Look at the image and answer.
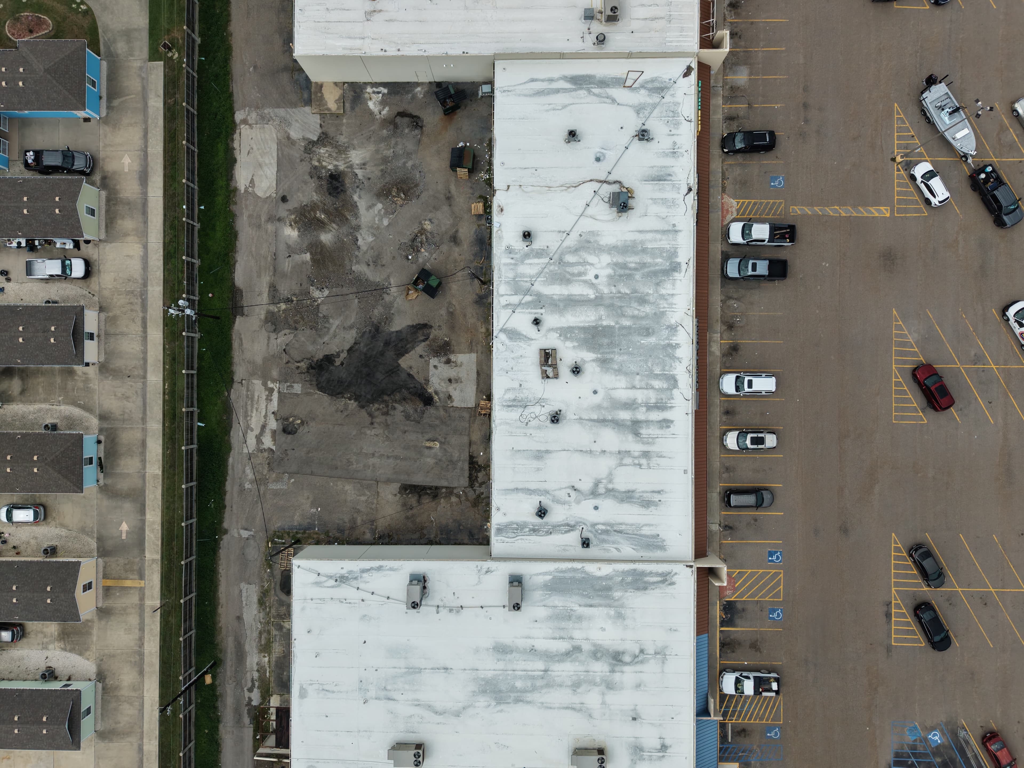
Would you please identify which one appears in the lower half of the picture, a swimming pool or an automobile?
automobile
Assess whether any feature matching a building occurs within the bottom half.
Yes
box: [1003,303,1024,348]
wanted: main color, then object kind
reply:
white car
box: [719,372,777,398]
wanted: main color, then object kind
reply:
white car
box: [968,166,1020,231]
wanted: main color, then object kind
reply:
black truck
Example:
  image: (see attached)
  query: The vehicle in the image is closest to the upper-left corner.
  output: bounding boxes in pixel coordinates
[21,143,94,172]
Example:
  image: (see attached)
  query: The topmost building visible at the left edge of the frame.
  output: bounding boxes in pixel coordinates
[0,38,101,171]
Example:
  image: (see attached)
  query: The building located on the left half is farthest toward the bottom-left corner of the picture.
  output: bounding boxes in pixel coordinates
[0,680,96,751]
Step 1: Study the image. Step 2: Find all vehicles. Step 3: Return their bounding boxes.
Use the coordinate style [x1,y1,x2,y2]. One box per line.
[911,602,950,654]
[1003,303,1024,348]
[968,166,1020,231]
[912,365,954,415]
[0,499,46,524]
[21,143,94,172]
[727,220,798,248]
[910,165,950,212]
[722,427,777,453]
[907,543,944,592]
[0,622,24,641]
[723,487,774,512]
[980,731,1017,768]
[1011,100,1024,132]
[717,669,780,699]
[723,257,790,283]
[24,253,93,279]
[719,372,777,398]
[722,130,777,158]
